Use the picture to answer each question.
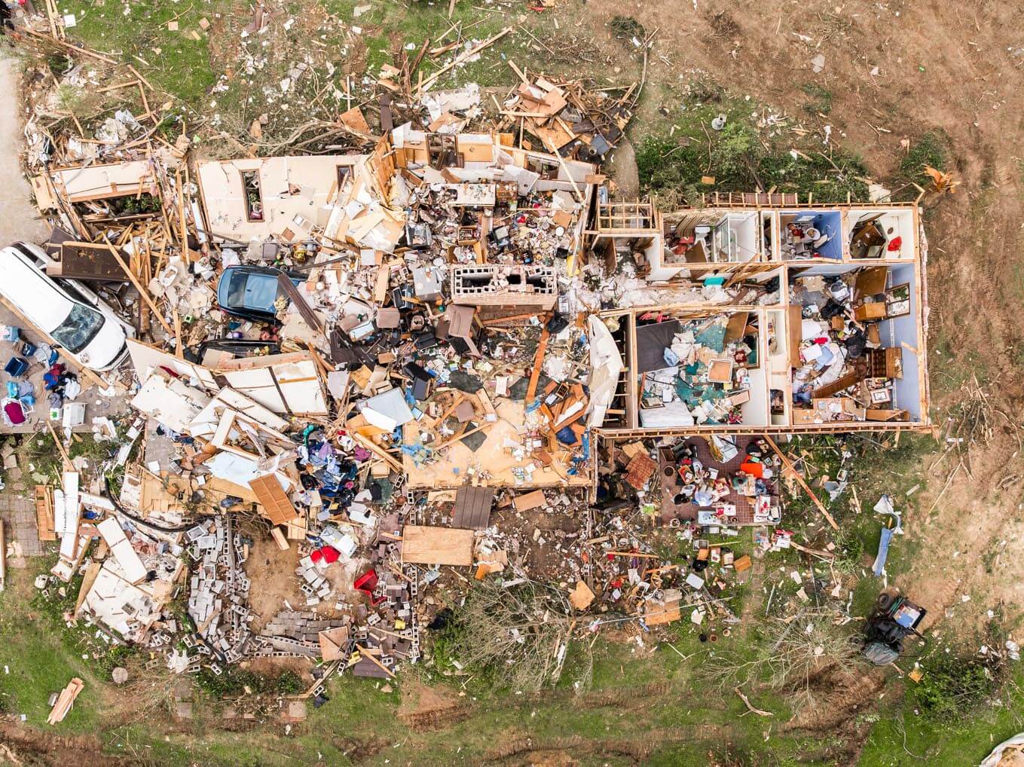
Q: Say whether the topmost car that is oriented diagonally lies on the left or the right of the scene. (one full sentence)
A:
The topmost car that is oriented diagonally is on the left side of the image.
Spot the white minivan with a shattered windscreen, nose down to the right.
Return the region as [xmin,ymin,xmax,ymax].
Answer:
[0,235,141,370]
